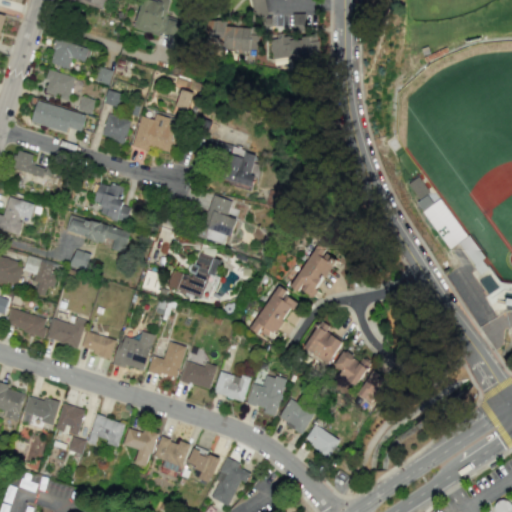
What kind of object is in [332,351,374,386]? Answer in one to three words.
house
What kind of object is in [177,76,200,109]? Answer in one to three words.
house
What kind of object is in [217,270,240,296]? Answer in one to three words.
swimming pool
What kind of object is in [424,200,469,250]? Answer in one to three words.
building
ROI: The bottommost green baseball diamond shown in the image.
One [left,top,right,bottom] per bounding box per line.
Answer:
[397,43,512,284]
